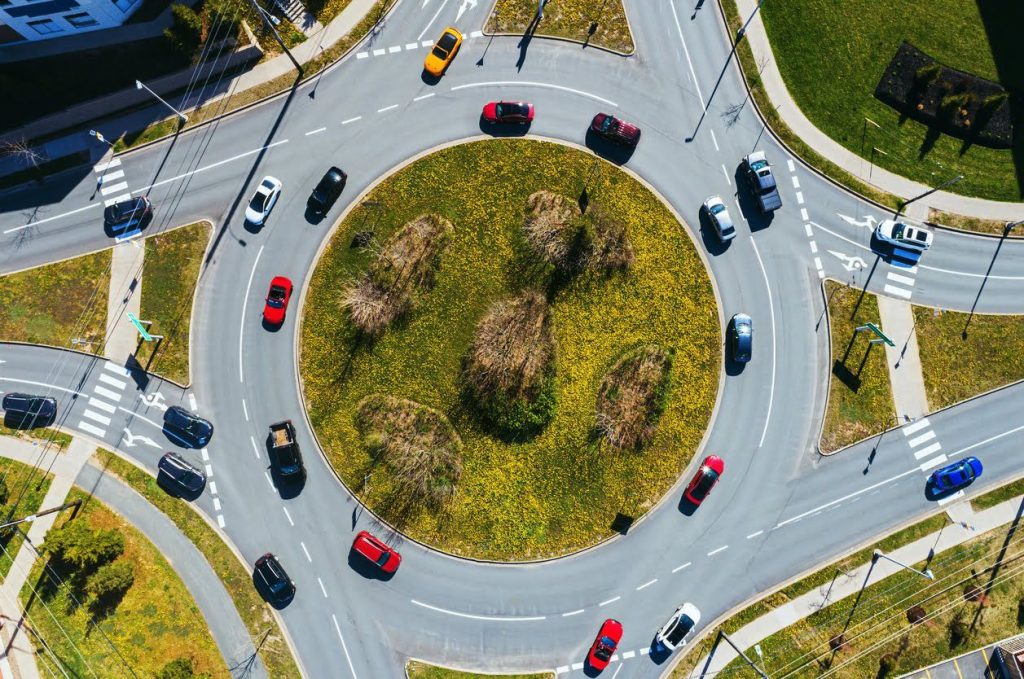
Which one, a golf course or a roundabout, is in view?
roundabout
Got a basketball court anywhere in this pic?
No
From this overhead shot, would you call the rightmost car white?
No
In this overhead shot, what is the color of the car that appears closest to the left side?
black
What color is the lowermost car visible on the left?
black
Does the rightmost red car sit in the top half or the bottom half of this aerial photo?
bottom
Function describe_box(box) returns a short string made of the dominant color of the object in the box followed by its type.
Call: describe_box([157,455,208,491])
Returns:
black car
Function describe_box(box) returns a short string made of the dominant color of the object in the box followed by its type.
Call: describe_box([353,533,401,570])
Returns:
red car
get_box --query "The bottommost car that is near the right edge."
[928,459,980,493]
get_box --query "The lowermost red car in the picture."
[589,617,621,670]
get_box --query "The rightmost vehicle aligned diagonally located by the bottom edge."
[660,603,698,652]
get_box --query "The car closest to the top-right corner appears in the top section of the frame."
[877,221,931,251]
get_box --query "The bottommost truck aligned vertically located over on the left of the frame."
[271,420,302,482]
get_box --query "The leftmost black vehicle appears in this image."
[0,393,58,417]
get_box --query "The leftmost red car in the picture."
[265,276,292,325]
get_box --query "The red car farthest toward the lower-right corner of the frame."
[686,454,721,505]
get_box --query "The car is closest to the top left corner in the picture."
[105,196,153,224]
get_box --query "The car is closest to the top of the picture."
[428,28,462,76]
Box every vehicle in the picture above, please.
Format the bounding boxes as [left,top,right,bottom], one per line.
[428,28,462,76]
[271,420,302,482]
[248,176,282,224]
[254,555,295,603]
[730,314,754,362]
[703,198,736,243]
[265,276,292,325]
[877,221,931,251]
[660,603,698,652]
[484,101,533,125]
[353,533,401,570]
[746,153,782,212]
[310,167,347,213]
[105,196,153,224]
[157,455,208,491]
[928,459,980,493]
[686,454,721,505]
[589,617,621,670]
[592,115,641,146]
[163,407,214,441]
[0,393,58,417]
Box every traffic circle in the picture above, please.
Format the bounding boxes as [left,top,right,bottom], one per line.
[190,30,825,673]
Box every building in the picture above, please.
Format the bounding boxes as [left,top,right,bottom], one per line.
[999,637,1024,679]
[0,0,142,47]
